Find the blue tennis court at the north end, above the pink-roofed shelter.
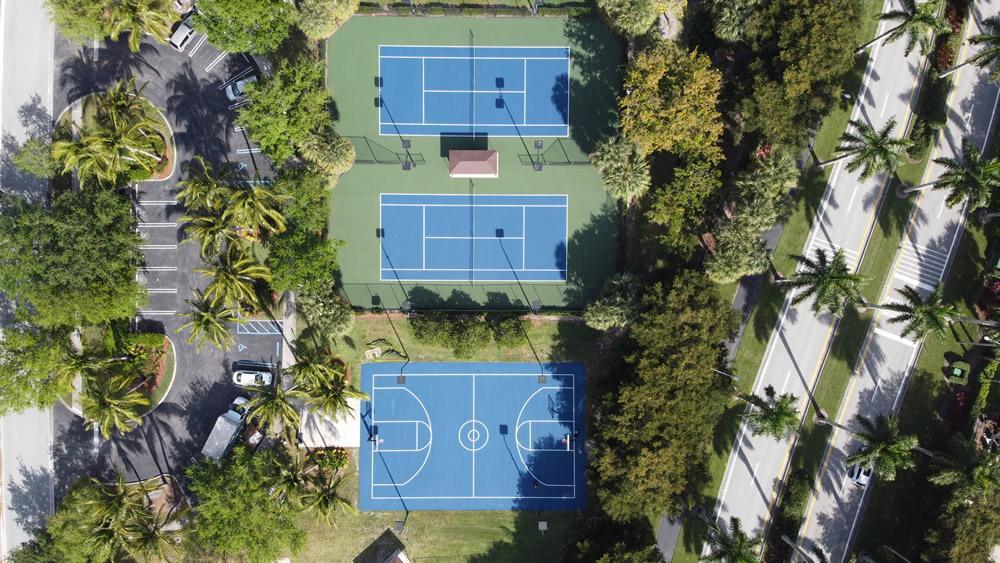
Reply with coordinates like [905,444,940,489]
[379,46,569,137]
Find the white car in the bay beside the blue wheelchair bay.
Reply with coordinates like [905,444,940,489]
[232,373,271,391]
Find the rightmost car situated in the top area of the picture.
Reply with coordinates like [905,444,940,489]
[223,69,258,101]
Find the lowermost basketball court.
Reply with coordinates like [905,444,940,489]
[359,362,586,510]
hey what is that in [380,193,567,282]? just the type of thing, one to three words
tennis court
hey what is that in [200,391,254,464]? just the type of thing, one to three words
truck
